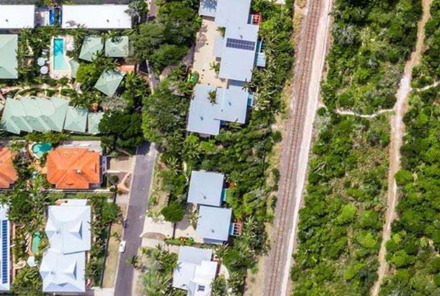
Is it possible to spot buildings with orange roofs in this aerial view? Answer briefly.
Yes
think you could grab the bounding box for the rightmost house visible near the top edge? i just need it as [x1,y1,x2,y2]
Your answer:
[199,0,265,80]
